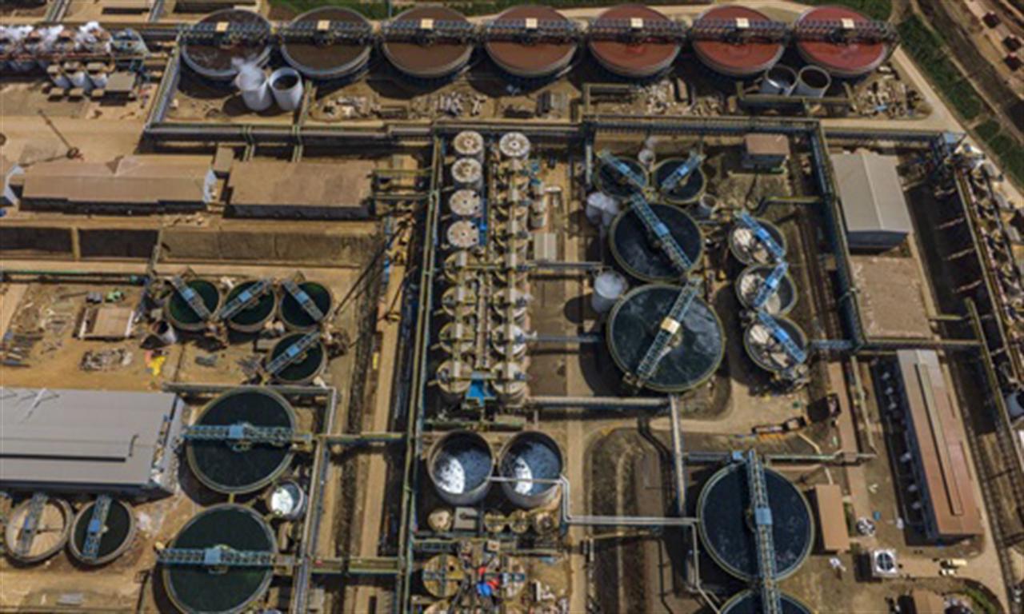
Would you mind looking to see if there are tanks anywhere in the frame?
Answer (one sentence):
Yes, the photo shows a tank.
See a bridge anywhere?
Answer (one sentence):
Yes, a bridge appears in the view.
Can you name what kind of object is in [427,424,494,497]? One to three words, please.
storage tank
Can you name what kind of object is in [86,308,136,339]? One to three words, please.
shed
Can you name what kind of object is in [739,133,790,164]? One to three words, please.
building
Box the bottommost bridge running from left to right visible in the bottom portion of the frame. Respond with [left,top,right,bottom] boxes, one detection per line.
[147,546,291,566]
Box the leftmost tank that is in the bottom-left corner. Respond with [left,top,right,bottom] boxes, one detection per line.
[0,487,78,570]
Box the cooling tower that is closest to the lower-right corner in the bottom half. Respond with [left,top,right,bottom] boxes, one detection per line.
[867,551,906,581]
